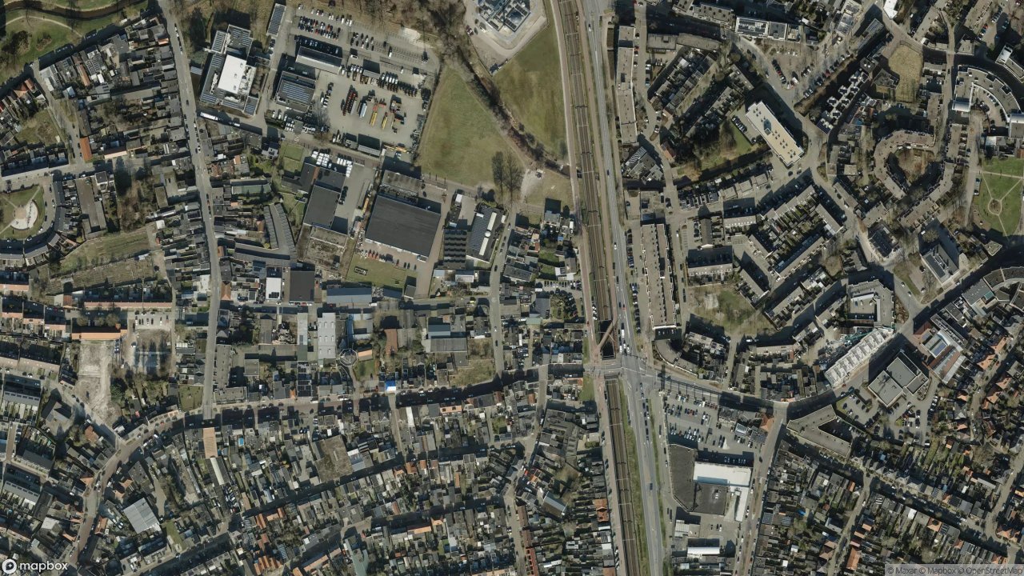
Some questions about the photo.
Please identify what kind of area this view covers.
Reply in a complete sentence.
This image shows a residential area.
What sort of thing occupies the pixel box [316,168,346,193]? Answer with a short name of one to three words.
building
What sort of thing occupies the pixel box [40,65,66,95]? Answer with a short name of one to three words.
house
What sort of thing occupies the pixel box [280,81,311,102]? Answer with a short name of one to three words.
solar panel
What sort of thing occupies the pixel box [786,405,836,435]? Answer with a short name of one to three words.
building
